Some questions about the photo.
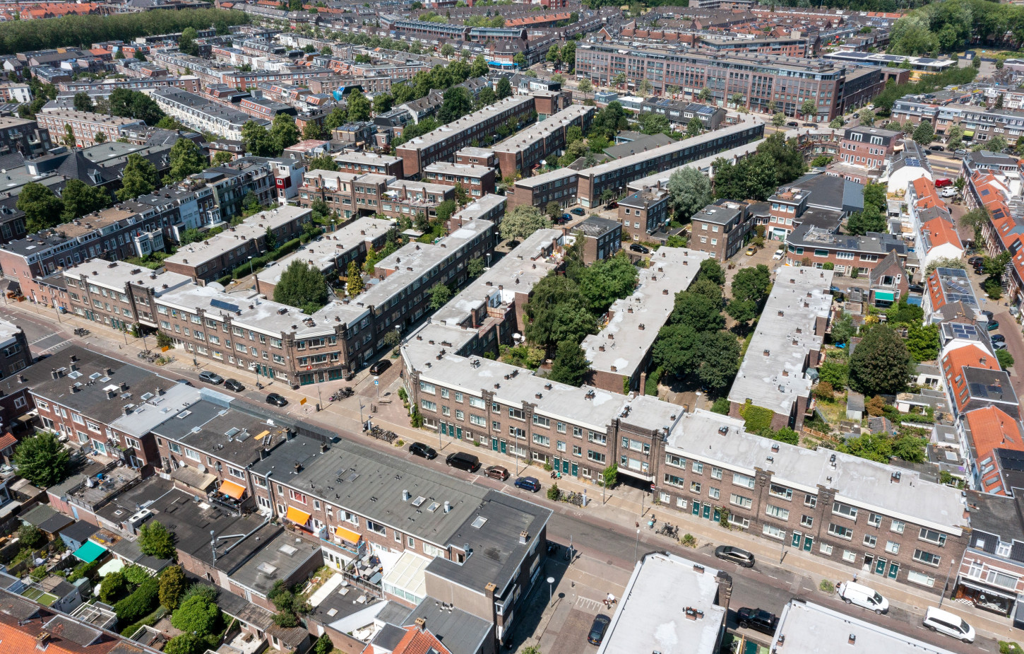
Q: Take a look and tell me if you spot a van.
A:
Yes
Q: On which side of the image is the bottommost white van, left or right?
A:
right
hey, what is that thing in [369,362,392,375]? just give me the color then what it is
black vehicle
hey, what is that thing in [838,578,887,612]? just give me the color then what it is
white van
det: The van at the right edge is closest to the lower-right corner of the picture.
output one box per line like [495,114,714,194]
[921,605,974,642]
